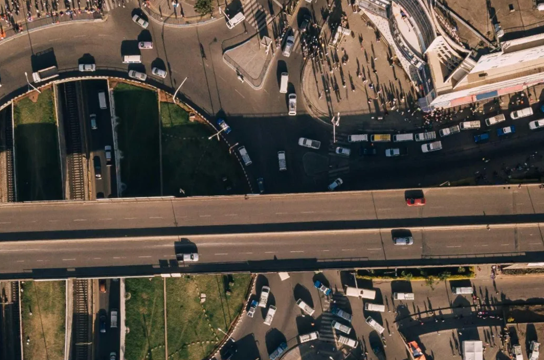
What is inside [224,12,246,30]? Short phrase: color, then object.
white vehicle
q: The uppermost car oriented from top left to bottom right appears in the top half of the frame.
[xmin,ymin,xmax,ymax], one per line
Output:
[131,14,151,29]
